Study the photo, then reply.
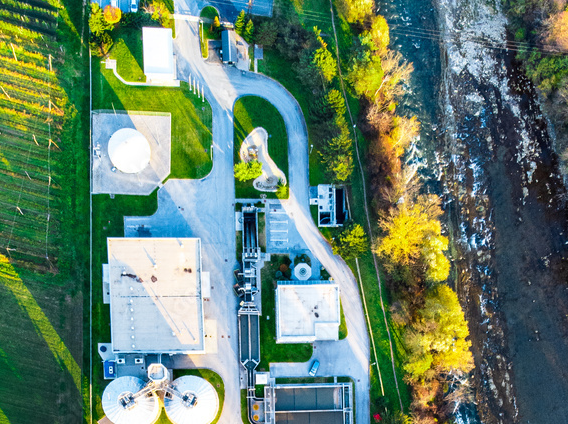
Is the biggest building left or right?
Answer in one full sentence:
The biggest building appears in the left half of the scene.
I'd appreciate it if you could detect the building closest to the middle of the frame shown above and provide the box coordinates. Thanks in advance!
[318,185,347,228]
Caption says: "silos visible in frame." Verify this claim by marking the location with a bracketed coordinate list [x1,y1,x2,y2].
[103,375,165,424]
[163,373,221,424]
